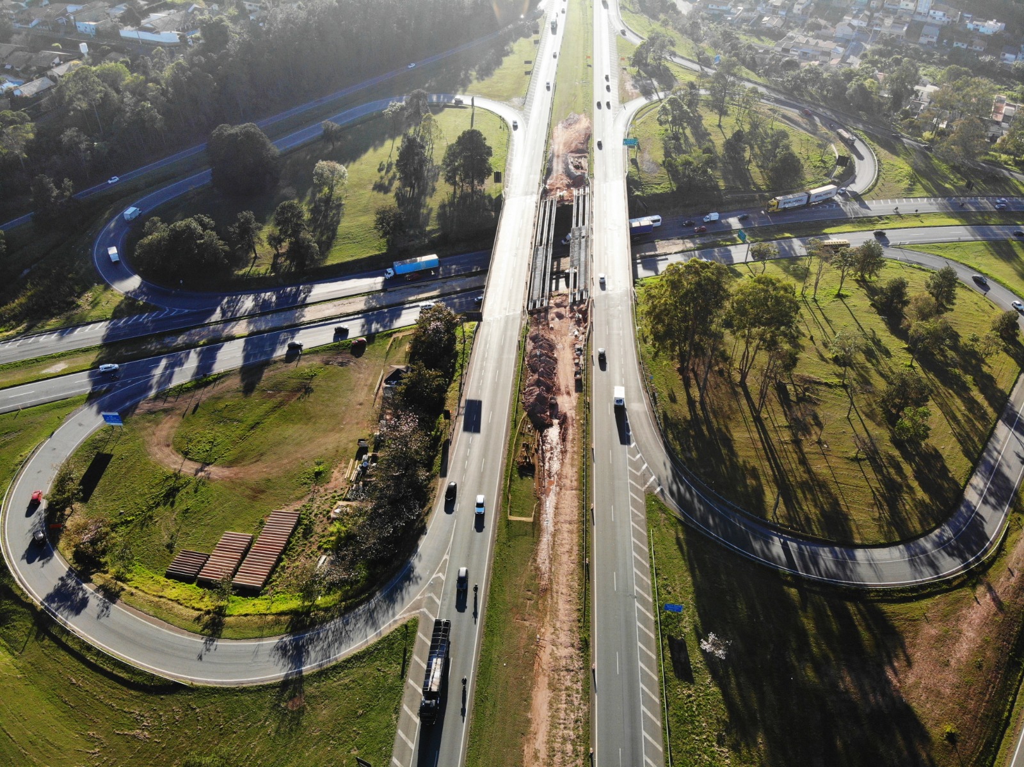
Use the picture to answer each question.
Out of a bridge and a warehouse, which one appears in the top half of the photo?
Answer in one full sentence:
Visible in the top half of the photo is a bridge.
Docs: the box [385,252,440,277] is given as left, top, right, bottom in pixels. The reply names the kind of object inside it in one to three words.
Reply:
truck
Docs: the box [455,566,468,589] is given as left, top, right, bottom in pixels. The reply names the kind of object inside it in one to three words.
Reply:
vehicle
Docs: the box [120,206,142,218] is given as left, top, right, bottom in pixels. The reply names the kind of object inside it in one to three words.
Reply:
vehicle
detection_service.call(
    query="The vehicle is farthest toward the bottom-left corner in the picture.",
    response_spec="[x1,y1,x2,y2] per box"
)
[30,527,46,545]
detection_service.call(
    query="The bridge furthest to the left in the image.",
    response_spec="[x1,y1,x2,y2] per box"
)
[477,189,541,320]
